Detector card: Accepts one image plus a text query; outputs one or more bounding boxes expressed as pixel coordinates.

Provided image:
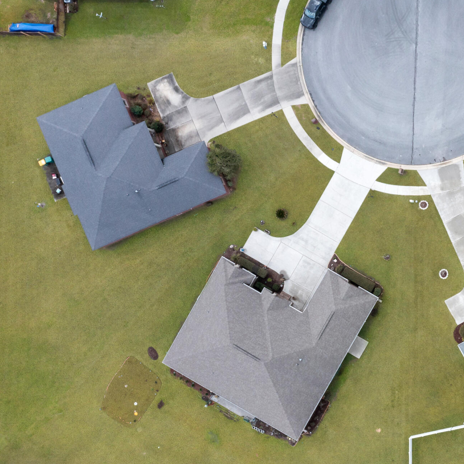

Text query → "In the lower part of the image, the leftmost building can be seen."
[161,255,379,441]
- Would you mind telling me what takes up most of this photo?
grass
